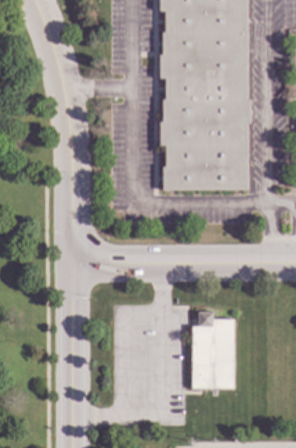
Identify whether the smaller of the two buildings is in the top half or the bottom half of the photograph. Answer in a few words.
bottom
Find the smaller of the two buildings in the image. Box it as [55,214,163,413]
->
[192,310,236,397]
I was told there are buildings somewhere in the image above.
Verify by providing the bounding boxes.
[192,310,236,397]
[160,0,250,190]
